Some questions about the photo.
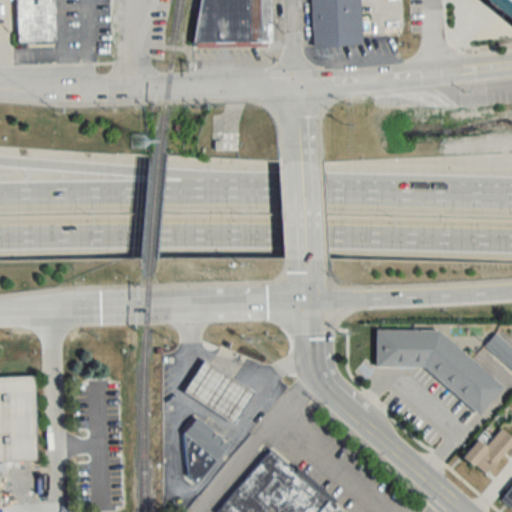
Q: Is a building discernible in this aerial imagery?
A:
Yes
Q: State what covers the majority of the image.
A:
paved ground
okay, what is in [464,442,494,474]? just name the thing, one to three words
house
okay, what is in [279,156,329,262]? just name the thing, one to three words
overpass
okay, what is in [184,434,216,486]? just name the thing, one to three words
building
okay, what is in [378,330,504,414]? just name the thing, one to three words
building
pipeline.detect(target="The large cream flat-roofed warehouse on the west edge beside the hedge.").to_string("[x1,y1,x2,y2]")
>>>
[0,376,40,462]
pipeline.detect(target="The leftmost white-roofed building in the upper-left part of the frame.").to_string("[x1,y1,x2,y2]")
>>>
[18,0,59,48]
